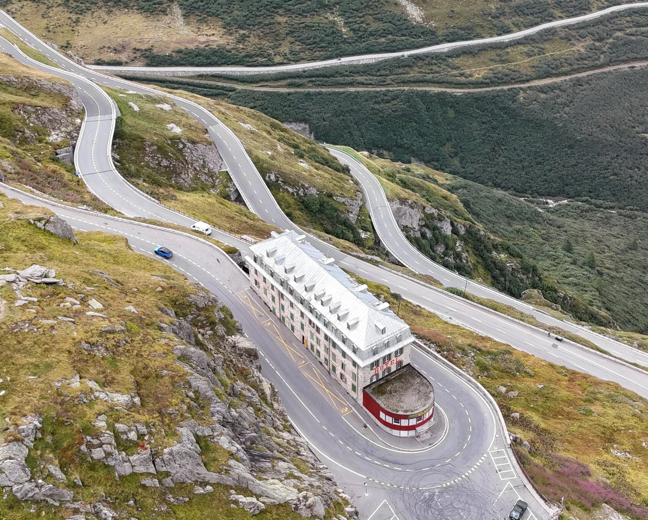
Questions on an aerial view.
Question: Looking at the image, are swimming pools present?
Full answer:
No, I can see no swimming pool in this picture.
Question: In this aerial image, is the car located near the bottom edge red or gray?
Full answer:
The car located near the bottom edge looks gray in the image.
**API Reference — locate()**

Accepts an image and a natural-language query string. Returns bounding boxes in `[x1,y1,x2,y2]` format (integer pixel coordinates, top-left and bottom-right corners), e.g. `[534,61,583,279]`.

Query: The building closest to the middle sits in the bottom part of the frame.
[244,228,416,408]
